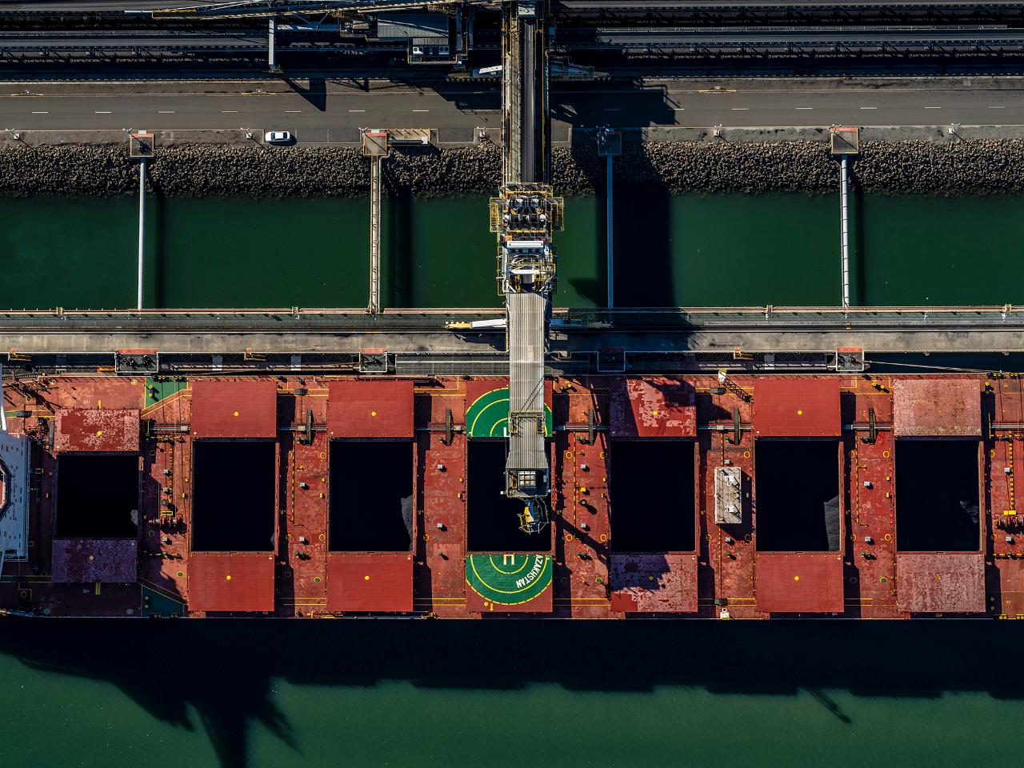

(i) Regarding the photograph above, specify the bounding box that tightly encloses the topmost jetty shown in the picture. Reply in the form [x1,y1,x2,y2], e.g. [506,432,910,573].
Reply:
[0,303,1024,354]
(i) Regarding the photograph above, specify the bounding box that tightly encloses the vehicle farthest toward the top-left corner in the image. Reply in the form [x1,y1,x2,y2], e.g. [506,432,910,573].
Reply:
[265,131,290,143]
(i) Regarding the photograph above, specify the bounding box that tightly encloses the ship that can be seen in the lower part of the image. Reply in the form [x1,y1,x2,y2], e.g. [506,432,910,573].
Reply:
[0,362,1024,620]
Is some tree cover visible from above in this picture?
No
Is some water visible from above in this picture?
Yes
